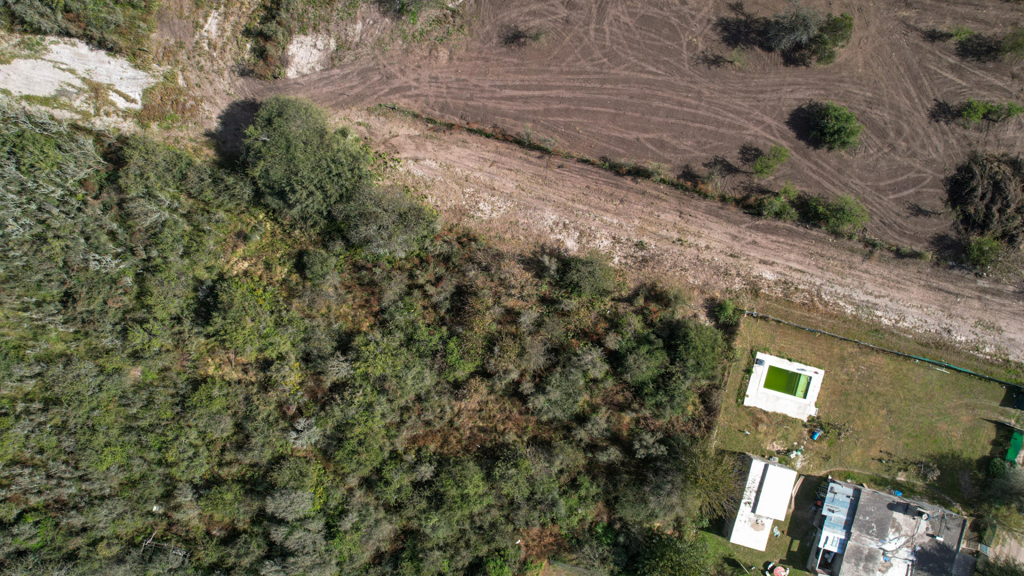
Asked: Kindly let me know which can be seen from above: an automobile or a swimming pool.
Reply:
swimming pool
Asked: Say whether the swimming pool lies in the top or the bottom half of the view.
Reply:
bottom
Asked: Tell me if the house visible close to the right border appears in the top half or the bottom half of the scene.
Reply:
bottom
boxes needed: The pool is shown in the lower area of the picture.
[744,352,824,422]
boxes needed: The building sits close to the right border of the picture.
[805,479,977,576]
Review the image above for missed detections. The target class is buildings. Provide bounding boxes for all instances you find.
[805,479,977,576]
[724,455,797,551]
